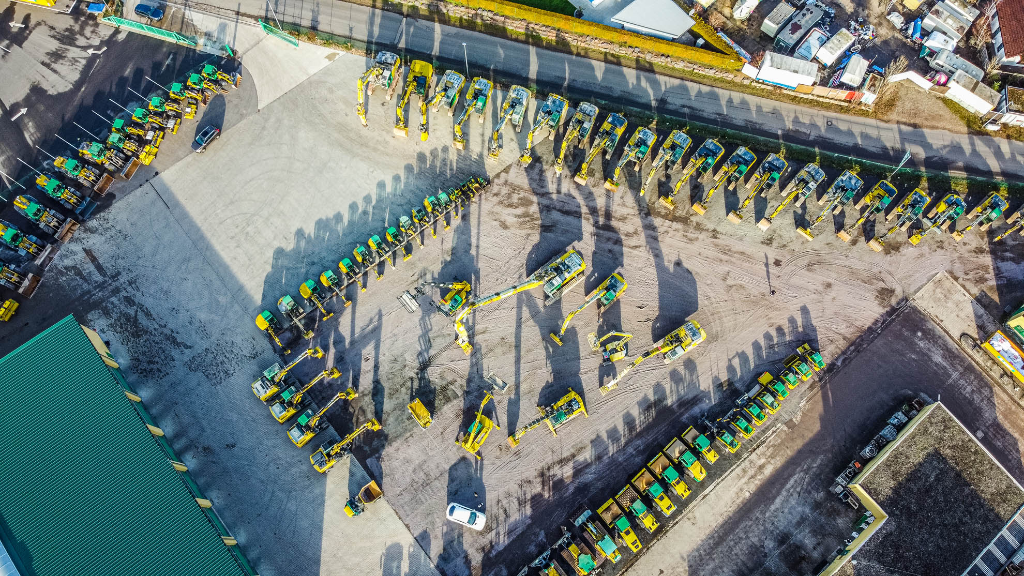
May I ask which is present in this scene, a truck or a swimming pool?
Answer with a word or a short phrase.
truck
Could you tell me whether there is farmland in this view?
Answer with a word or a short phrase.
No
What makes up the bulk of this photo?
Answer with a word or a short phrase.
paved ground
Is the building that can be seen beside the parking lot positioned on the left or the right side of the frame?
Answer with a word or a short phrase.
left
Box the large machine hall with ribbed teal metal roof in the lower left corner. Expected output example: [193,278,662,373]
[0,312,273,576]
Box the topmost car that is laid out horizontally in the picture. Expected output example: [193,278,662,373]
[134,4,165,22]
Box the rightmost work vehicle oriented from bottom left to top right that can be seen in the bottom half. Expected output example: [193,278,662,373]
[598,317,712,396]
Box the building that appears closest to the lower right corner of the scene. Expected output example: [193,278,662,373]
[818,399,1024,576]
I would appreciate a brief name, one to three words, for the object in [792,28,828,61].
camper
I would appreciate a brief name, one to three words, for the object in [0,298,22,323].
vehicle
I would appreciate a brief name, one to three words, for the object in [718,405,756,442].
work vehicle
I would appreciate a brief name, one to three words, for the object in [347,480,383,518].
truck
